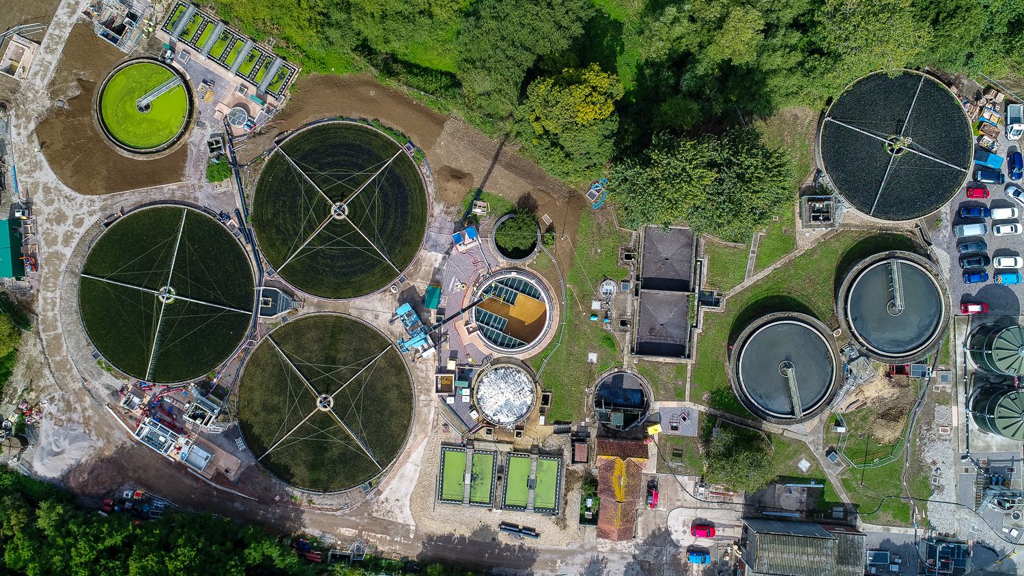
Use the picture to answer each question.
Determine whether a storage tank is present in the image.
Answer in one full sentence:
Yes, there's a storage tank down there.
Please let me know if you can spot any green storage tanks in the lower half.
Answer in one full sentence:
Yes, I can see a green storage tank in the lower half.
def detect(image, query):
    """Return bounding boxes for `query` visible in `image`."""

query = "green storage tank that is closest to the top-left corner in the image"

[94,53,201,160]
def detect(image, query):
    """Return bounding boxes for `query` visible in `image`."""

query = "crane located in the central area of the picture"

[389,290,511,362]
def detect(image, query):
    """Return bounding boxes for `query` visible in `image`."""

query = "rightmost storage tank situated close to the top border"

[160,0,302,98]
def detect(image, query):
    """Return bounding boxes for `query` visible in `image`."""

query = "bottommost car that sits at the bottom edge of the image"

[685,549,708,565]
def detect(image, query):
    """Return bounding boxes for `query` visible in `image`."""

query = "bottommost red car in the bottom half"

[689,522,715,537]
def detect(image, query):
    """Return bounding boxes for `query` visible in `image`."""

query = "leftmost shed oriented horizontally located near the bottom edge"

[737,518,866,576]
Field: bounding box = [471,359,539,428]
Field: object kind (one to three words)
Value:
storage tank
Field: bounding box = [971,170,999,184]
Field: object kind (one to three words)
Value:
vehicle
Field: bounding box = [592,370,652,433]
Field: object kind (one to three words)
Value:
storage tank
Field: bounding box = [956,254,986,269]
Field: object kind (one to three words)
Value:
car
